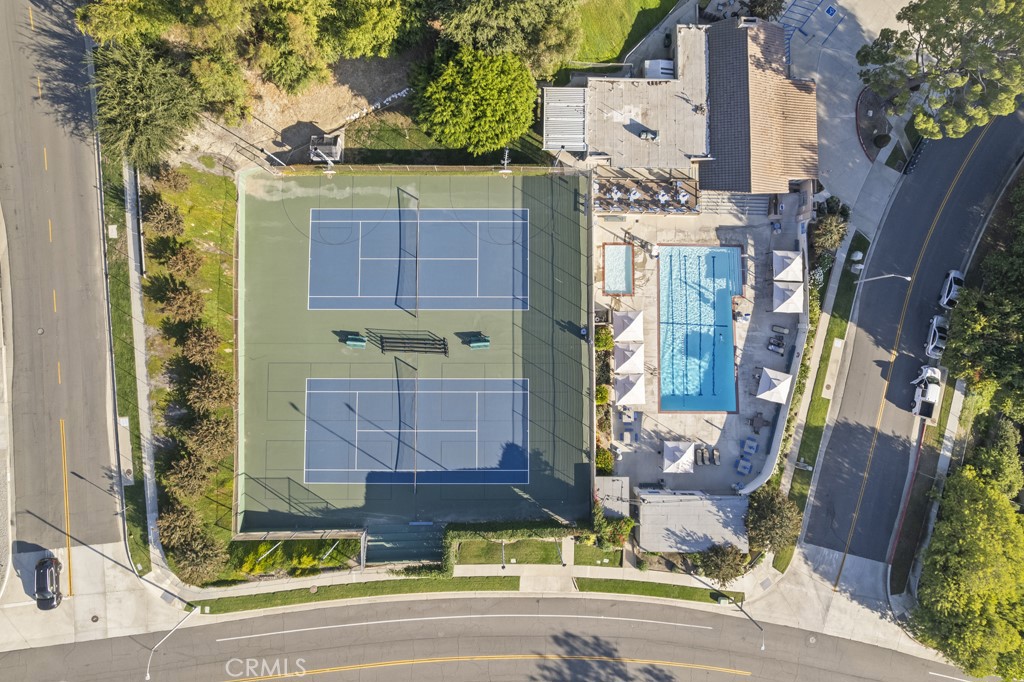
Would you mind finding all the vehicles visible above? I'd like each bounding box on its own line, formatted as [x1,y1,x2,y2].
[35,558,64,608]
[934,267,965,312]
[921,314,950,359]
[910,365,943,421]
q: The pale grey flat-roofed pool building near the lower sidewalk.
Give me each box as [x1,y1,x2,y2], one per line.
[635,489,748,552]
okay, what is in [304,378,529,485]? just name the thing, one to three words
tennis court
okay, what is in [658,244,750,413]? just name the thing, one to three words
swimming pool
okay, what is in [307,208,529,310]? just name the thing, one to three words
tennis court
